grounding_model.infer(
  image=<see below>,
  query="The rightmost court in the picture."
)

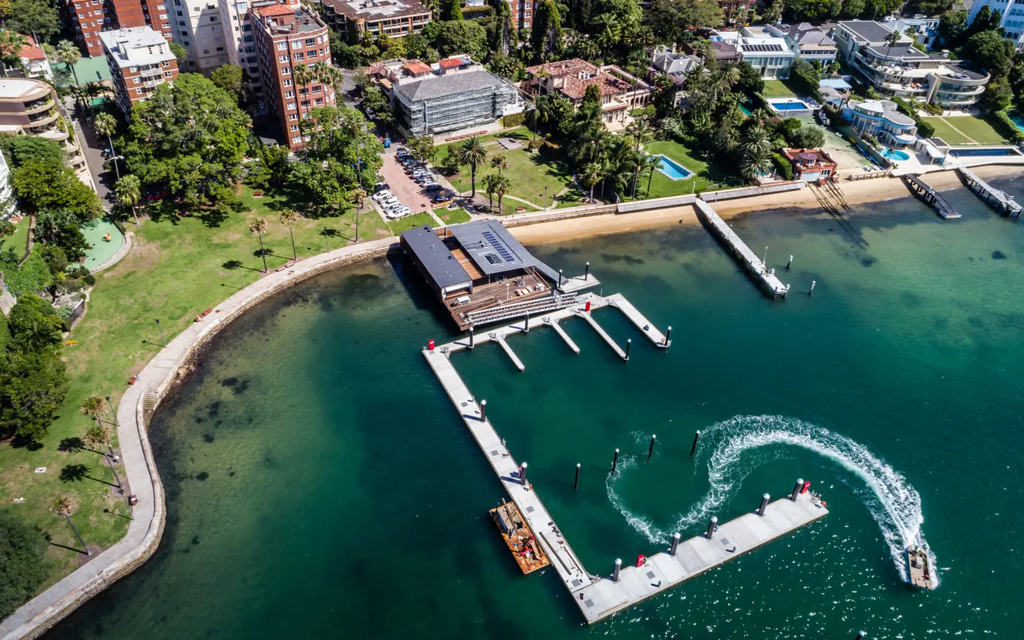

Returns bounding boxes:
[801,121,874,175]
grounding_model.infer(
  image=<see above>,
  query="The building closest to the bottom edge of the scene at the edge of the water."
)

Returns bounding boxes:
[400,220,552,331]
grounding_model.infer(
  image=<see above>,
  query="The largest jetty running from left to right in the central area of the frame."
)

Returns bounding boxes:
[434,293,629,375]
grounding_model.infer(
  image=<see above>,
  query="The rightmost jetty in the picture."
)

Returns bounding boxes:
[958,167,1024,220]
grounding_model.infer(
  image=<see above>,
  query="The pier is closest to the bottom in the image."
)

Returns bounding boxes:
[572,492,828,626]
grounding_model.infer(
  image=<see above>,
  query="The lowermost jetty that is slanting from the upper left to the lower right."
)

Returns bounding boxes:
[421,348,597,598]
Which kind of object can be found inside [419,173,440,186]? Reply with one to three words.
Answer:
vehicle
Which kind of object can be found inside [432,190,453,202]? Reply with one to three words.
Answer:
vehicle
